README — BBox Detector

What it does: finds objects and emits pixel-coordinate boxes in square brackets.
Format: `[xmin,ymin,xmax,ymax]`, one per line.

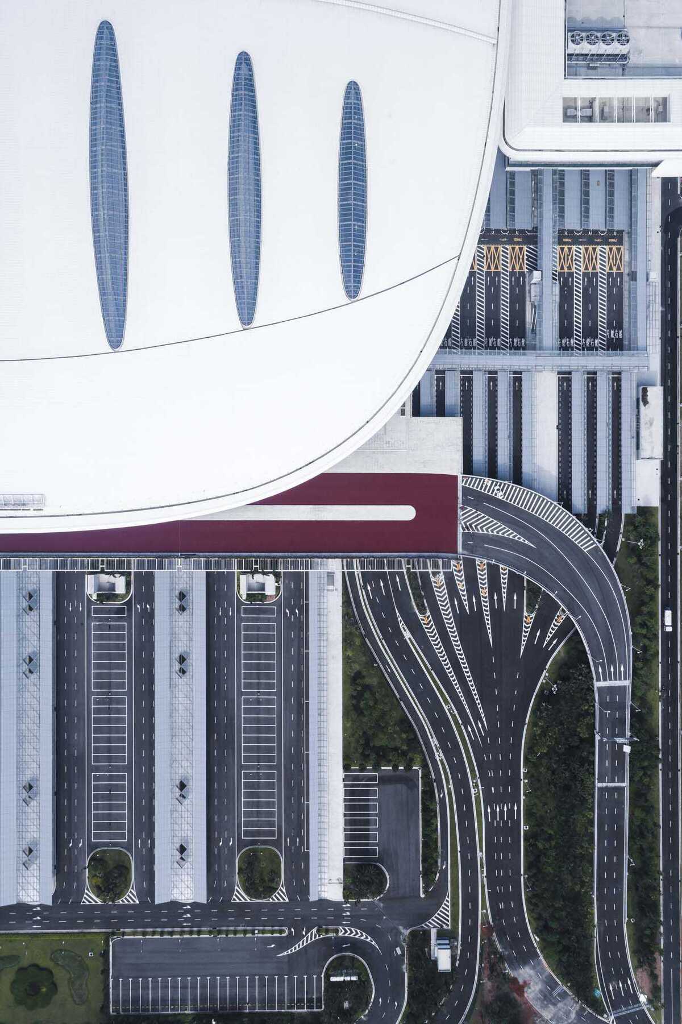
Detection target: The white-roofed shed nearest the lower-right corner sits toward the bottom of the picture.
[436,934,451,972]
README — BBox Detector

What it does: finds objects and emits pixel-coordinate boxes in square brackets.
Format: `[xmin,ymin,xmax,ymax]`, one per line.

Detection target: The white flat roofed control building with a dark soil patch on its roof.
[637,387,664,460]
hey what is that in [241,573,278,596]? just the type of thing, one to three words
building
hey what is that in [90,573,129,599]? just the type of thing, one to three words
building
